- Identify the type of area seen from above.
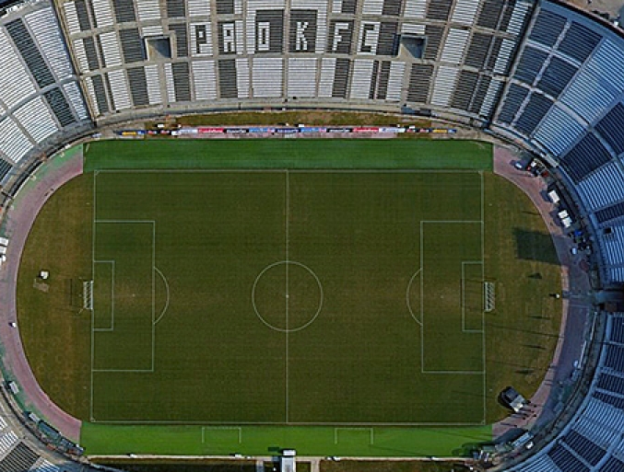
sports ground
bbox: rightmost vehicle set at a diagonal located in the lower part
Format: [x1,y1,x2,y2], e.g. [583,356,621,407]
[496,383,525,414]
